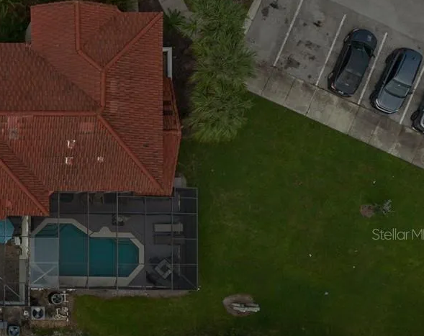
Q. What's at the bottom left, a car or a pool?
pool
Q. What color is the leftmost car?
black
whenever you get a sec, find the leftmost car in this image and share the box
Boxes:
[324,25,378,100]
